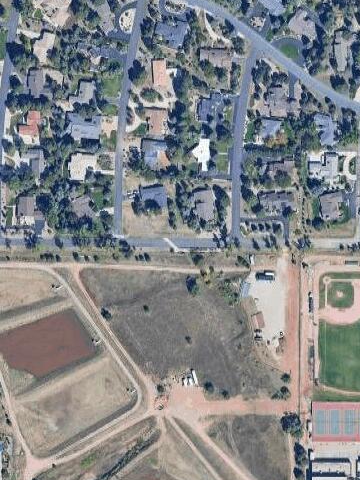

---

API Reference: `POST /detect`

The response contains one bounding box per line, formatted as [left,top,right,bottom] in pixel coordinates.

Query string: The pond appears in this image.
[0,309,93,378]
